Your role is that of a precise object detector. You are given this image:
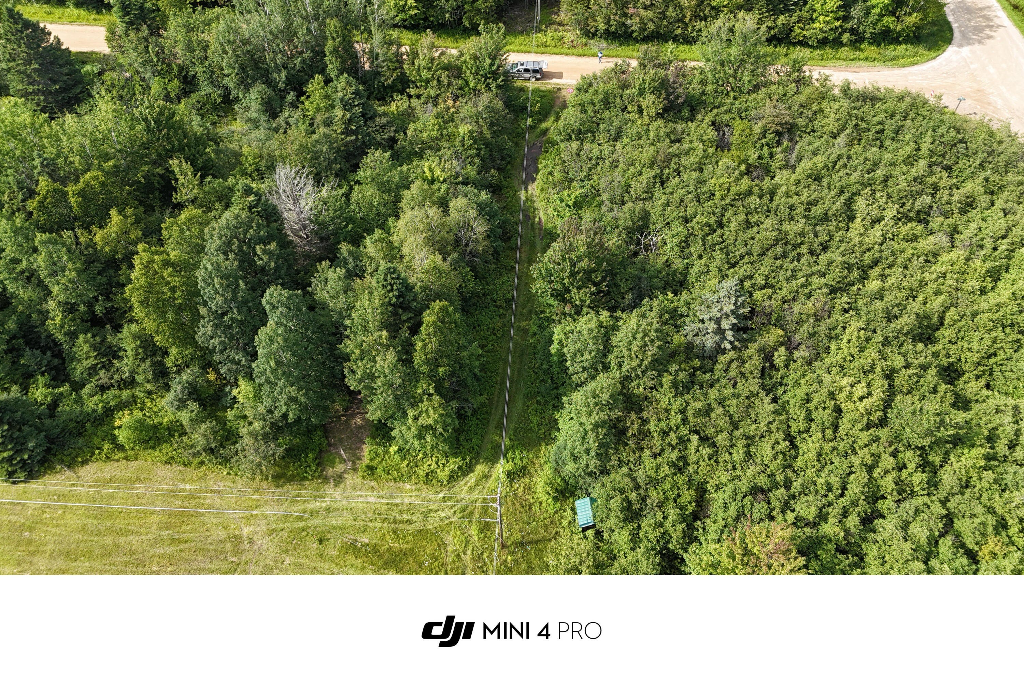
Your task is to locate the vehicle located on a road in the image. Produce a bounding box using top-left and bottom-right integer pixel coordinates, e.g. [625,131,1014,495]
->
[505,59,551,80]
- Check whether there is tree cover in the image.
Yes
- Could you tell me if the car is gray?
Yes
